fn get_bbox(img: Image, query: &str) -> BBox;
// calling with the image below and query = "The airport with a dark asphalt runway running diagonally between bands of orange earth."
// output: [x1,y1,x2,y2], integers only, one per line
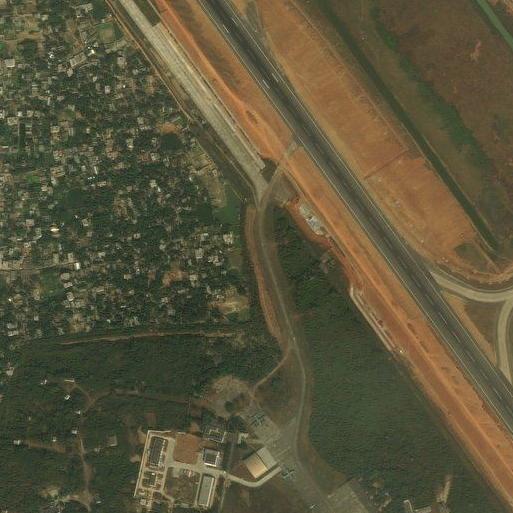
[195,0,513,438]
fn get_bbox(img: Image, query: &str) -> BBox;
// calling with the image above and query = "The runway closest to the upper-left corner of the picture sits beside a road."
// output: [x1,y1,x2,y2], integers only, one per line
[120,0,300,205]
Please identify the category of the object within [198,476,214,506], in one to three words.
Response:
building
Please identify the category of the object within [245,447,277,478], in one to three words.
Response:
hangar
